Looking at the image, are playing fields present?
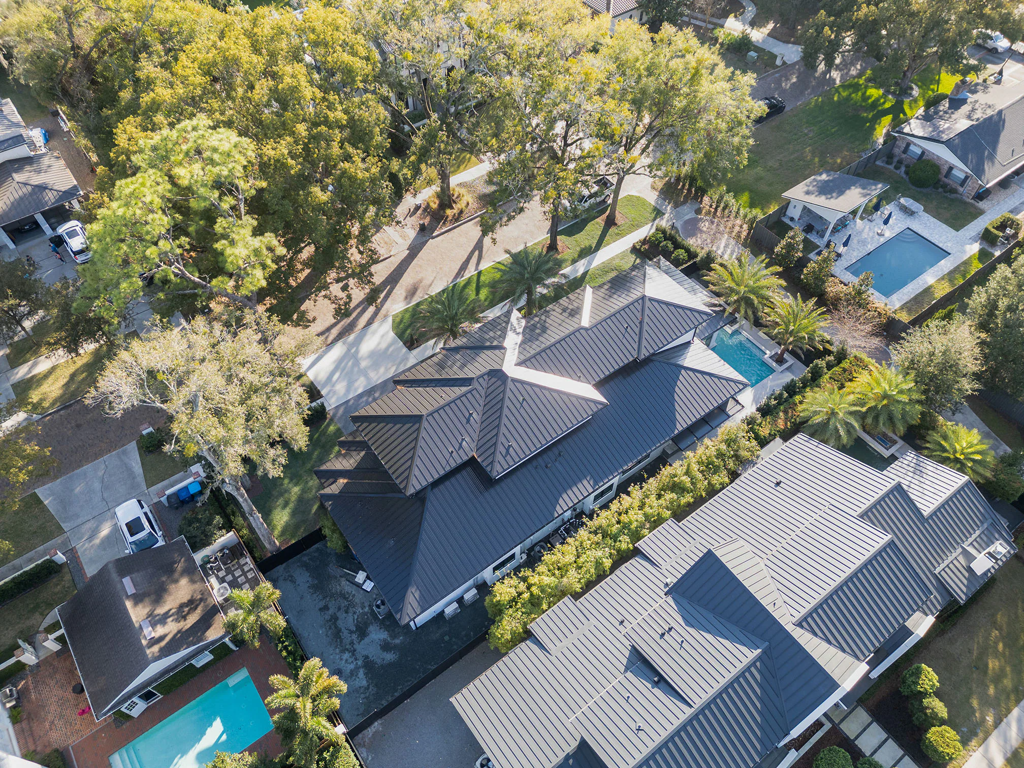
No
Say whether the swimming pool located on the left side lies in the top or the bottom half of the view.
bottom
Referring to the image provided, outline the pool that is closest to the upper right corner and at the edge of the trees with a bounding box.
[844,227,952,297]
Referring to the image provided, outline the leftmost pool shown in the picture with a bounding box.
[101,661,275,768]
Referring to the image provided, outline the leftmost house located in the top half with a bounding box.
[0,93,87,244]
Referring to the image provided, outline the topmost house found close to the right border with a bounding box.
[889,57,1024,200]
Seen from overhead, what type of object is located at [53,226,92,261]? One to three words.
car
